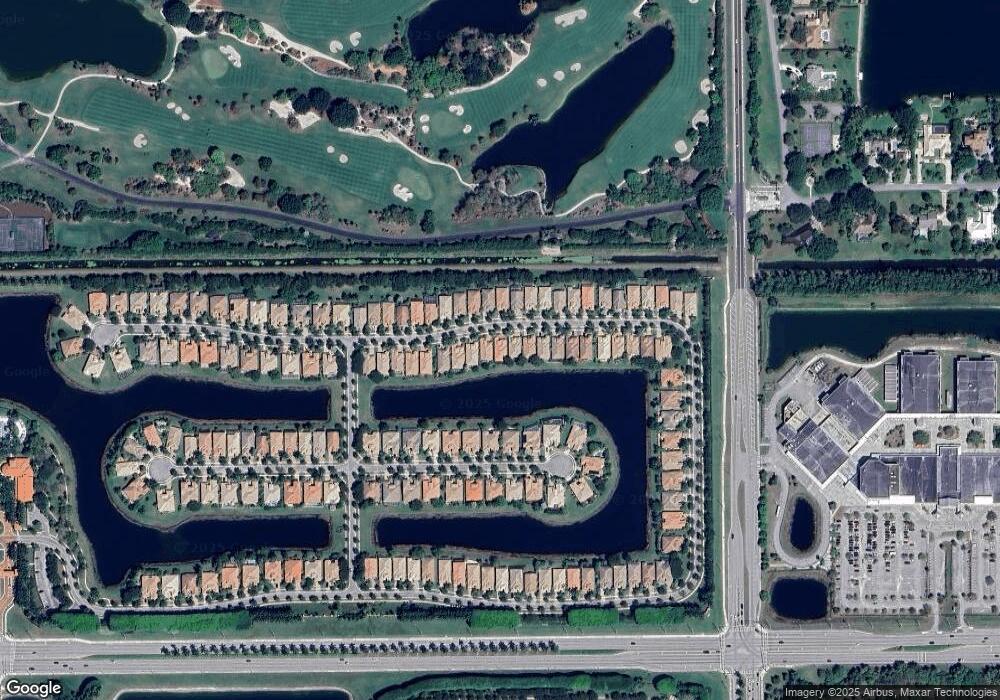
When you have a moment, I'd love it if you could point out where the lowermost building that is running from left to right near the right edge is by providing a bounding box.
[860,447,1000,509]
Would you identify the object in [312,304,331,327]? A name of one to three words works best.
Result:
house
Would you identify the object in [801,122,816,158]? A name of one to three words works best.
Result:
tennis court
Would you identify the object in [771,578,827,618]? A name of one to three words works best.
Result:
pond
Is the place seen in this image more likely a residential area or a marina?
residential area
